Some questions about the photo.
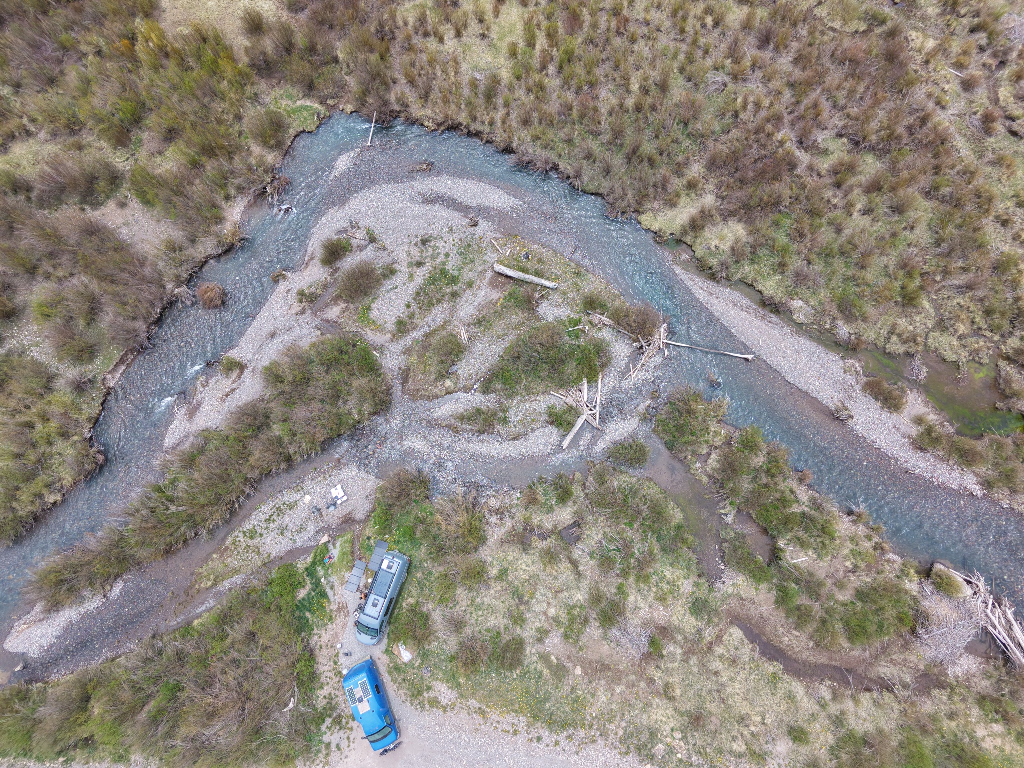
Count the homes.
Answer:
0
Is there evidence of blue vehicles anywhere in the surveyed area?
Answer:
Yes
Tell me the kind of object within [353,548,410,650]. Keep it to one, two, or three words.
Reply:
van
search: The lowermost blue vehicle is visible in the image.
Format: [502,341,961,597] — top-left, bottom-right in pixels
[341,656,399,753]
